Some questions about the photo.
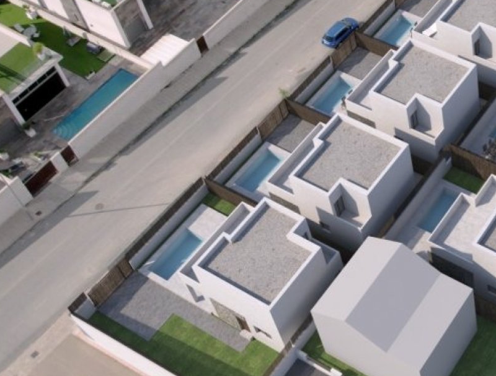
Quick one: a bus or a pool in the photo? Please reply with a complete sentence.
Visible in the photo is a pool.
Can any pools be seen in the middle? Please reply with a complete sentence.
Yes, there is a pool in the middle.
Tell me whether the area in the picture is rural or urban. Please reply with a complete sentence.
It looks urban.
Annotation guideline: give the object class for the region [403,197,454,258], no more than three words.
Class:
swimming pool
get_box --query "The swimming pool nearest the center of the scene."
[230,145,292,198]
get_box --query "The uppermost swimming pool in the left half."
[48,67,142,142]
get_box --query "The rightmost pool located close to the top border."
[374,10,423,49]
